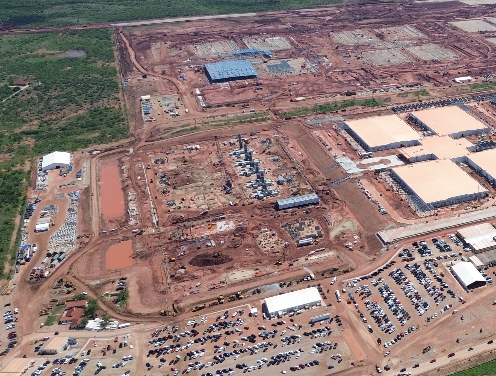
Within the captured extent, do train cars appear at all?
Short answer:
No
